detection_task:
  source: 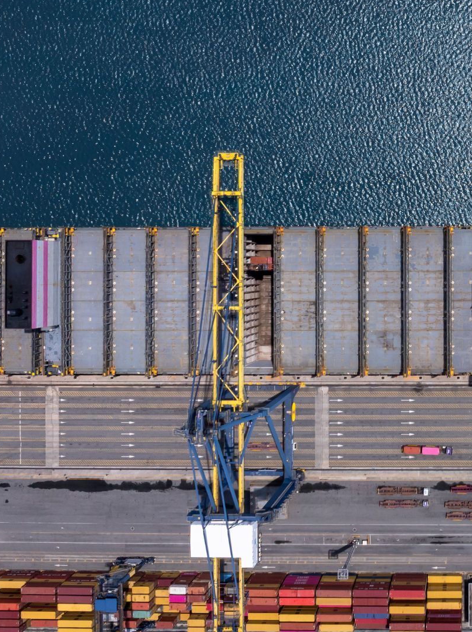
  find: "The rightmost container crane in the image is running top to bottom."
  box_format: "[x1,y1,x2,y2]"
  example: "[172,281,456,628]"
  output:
[176,150,314,632]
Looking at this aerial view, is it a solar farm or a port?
port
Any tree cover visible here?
No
